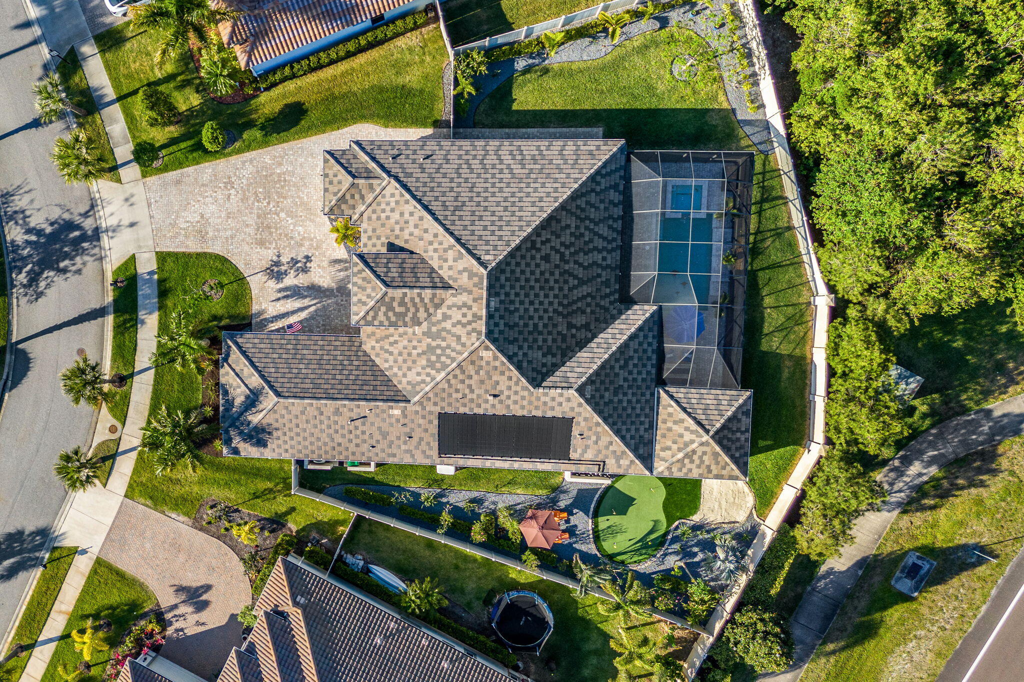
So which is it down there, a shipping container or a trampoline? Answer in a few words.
trampoline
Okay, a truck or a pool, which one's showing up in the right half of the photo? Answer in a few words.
pool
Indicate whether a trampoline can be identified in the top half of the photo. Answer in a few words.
No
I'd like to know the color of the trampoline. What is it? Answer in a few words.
black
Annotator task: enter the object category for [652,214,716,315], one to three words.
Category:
swimming pool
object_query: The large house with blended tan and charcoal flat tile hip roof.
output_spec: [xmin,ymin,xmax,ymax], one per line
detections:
[218,138,754,481]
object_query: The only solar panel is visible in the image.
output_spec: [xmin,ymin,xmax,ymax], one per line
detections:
[439,412,605,474]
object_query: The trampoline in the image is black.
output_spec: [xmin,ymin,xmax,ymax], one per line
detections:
[493,585,554,656]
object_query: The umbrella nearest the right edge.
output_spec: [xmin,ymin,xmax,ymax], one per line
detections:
[664,303,705,344]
